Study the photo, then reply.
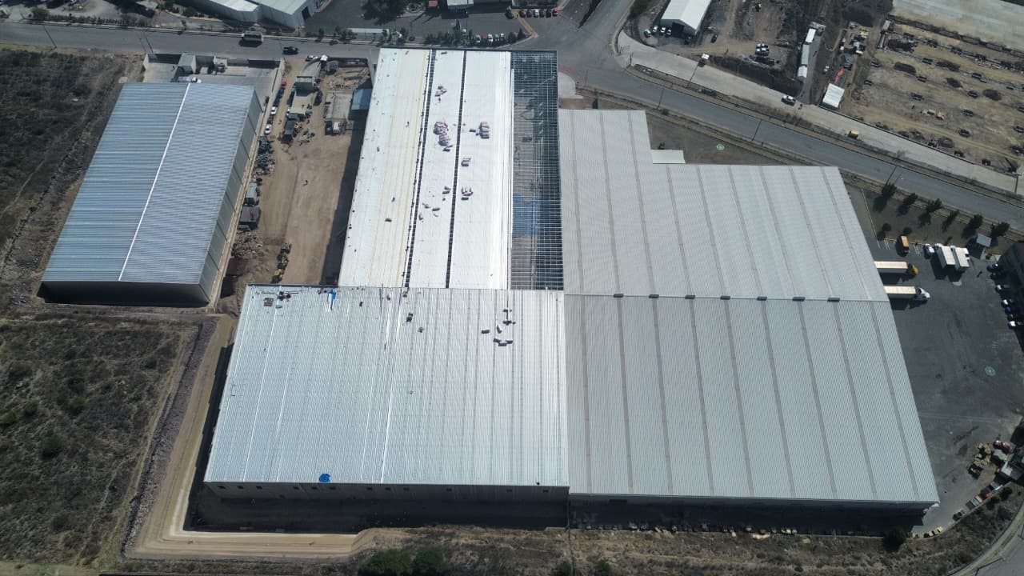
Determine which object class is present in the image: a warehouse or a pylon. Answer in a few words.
warehouse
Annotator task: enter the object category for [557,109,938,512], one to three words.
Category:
warehouse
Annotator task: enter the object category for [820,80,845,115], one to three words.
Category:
tent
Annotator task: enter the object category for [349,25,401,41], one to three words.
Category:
vehicle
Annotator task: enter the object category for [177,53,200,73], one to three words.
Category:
building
